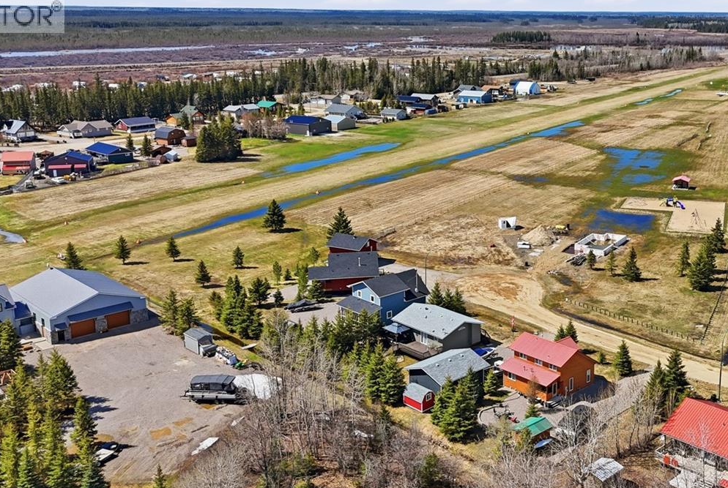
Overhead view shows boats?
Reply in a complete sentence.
Yes, looking at the shot, I can spot a boat.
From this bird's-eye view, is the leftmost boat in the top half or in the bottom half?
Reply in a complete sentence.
Seen from above, the leftmost boat lies in the bottom half of the view.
